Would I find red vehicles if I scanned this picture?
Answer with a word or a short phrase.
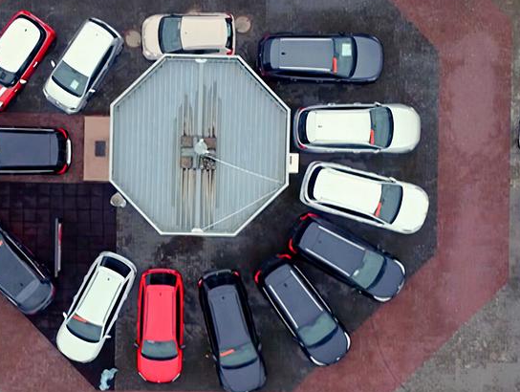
Yes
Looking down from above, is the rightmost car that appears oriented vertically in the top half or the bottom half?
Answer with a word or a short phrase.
bottom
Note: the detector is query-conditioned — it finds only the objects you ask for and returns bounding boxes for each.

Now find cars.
[60,249,139,366]
[294,98,420,157]
[301,160,428,232]
[142,7,235,61]
[0,8,56,111]
[258,26,383,86]
[43,17,123,114]
[0,221,55,319]
[0,123,71,176]
[256,255,349,366]
[289,209,406,300]
[197,269,265,392]
[130,269,188,381]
